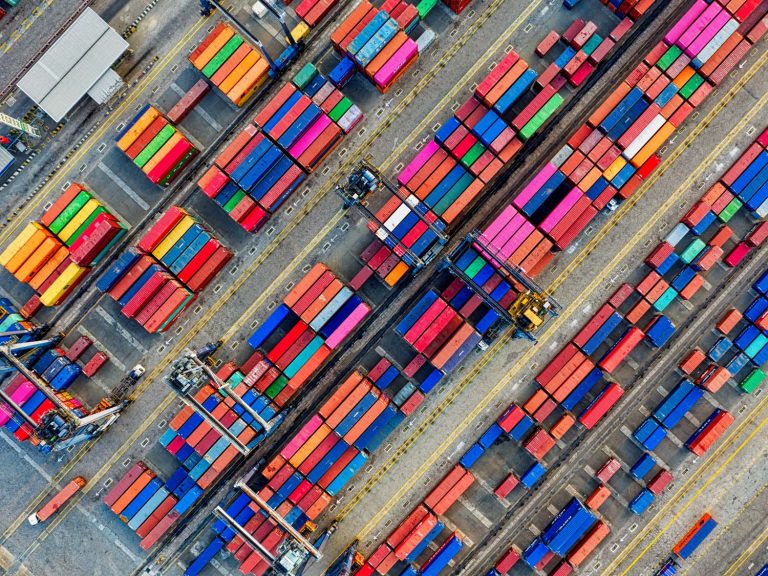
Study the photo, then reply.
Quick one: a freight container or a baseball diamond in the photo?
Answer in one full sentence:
There is a freight container in the scene.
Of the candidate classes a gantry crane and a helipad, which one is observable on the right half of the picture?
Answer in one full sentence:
There is a gantry crane on the right half of the picture.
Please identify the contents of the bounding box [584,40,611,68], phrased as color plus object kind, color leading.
red shipping container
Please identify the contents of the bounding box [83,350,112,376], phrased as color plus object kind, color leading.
red shipping container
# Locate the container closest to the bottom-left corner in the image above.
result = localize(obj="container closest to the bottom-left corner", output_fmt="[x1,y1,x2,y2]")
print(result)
[37,475,86,520]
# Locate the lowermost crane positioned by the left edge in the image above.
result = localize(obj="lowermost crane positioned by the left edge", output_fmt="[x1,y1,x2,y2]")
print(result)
[0,334,133,454]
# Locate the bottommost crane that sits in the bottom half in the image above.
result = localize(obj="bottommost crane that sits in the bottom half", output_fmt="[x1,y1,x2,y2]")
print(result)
[322,538,370,576]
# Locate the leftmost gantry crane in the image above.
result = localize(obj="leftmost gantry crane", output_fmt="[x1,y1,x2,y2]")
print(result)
[0,314,58,352]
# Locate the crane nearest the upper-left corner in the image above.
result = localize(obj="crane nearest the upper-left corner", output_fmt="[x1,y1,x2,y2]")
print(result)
[196,0,304,83]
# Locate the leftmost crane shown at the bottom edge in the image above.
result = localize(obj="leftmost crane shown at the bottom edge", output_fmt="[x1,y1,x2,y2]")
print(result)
[211,452,337,576]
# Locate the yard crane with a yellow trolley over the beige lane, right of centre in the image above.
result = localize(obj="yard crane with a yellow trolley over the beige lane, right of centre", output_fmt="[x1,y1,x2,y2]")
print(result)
[435,224,567,344]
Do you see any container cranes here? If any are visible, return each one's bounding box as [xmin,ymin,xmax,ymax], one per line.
[0,314,58,352]
[0,334,133,454]
[161,338,291,458]
[339,157,455,275]
[322,538,370,576]
[211,452,337,576]
[196,0,304,83]
[435,224,567,344]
